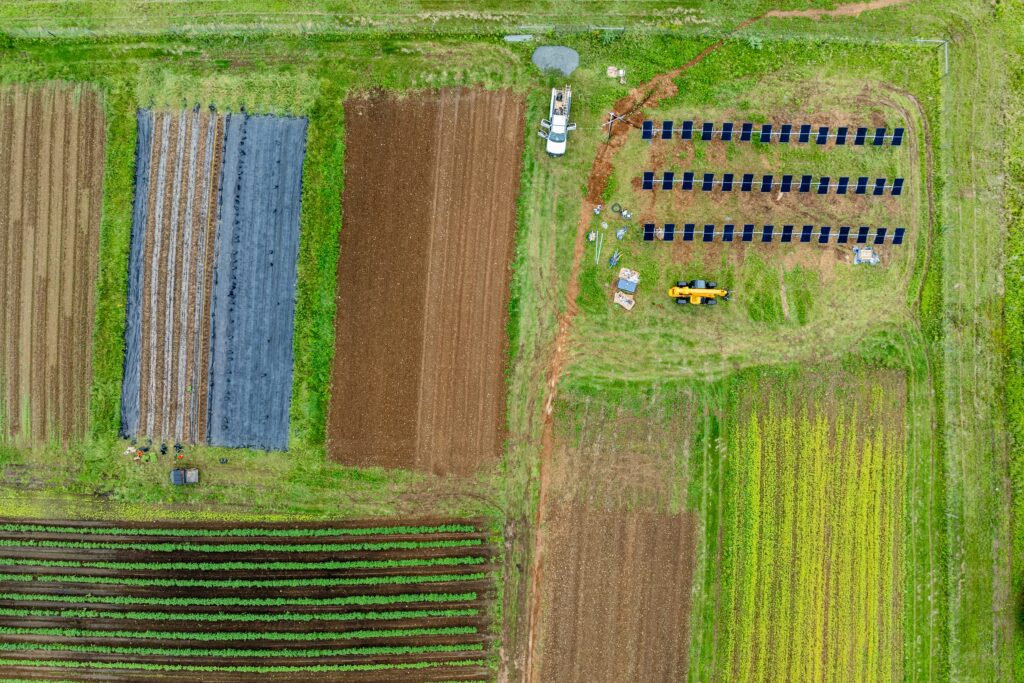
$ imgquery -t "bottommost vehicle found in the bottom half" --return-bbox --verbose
[170,468,199,485]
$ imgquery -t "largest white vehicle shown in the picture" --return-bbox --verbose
[537,87,576,159]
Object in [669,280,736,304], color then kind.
yellow work vehicle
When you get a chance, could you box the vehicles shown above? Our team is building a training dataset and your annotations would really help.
[669,280,736,304]
[170,468,199,485]
[537,87,576,159]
